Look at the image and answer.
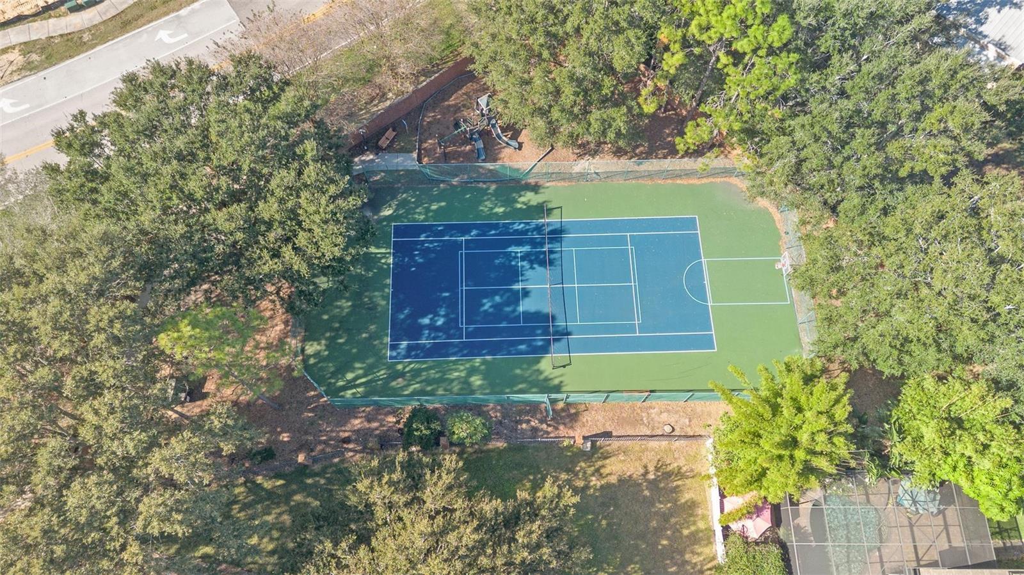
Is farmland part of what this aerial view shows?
No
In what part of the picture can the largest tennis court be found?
center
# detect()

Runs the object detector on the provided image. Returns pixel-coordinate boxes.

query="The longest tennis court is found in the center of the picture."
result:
[301,180,802,401]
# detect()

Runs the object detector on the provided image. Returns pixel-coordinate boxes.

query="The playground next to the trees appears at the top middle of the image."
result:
[434,102,515,159]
